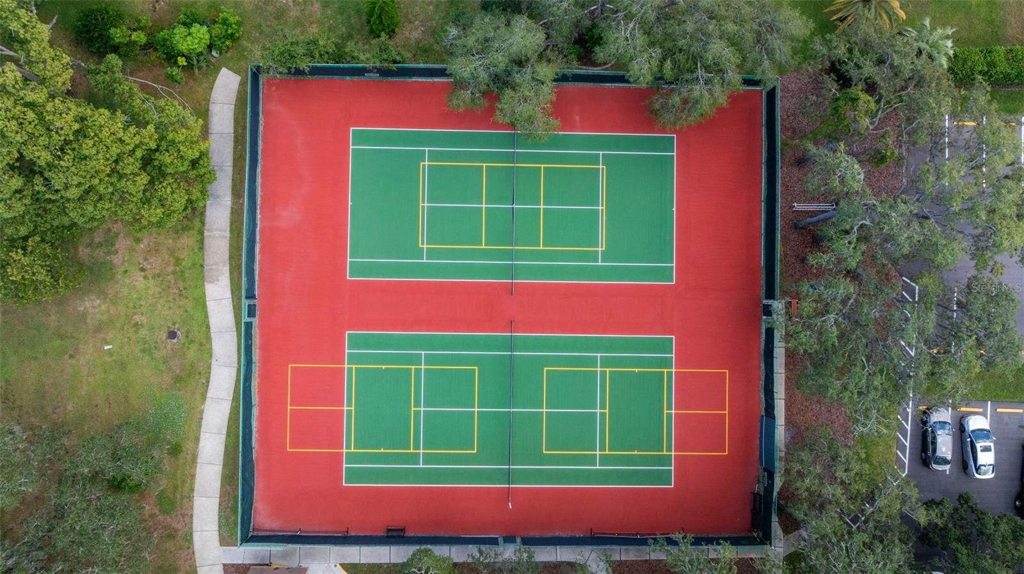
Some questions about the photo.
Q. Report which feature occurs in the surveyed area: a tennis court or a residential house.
tennis court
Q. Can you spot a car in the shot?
Yes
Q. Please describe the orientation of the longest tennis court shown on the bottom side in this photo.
from side to side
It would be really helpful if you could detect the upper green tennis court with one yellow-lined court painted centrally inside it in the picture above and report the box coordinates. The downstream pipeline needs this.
[347,127,676,284]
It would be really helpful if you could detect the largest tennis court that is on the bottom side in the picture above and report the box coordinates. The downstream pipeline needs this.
[343,332,675,488]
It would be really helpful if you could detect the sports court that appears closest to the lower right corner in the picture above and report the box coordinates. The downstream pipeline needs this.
[543,368,728,454]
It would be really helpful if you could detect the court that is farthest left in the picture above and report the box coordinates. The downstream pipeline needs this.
[287,365,477,452]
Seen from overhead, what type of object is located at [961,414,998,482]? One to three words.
car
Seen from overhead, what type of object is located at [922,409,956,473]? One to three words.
car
